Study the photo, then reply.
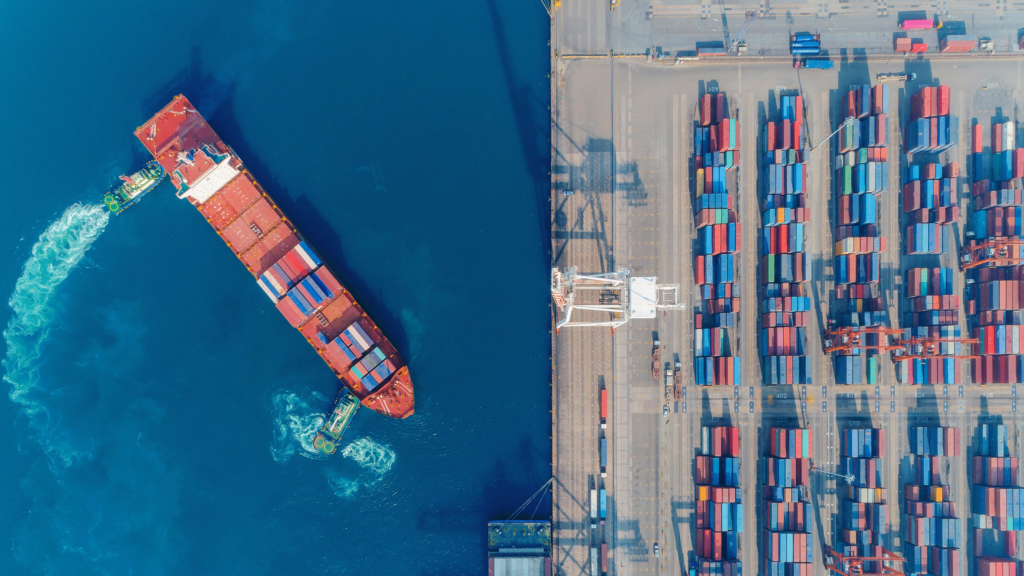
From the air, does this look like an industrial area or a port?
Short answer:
port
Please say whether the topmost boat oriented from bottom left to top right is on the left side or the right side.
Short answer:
left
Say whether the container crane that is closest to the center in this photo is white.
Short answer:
Yes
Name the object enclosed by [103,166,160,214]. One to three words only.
boat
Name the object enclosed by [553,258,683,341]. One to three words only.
container crane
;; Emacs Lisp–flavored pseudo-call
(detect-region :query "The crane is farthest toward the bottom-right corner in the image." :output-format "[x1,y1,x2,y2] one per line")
[827,543,908,576]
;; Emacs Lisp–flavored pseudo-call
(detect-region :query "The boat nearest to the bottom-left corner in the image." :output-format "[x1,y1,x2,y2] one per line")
[315,393,362,457]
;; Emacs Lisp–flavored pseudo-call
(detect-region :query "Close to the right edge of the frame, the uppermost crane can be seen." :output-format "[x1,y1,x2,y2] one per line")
[964,240,1024,273]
